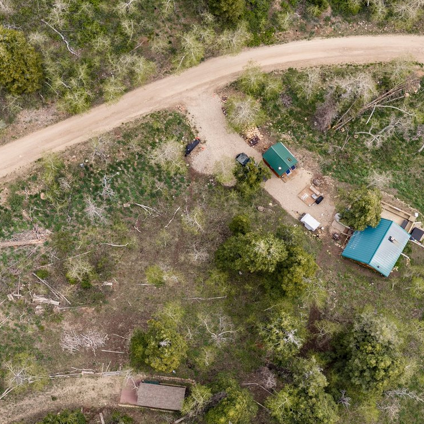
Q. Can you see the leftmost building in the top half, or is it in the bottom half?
bottom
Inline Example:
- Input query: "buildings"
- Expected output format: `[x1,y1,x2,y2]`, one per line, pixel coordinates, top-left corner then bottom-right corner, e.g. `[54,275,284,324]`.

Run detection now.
[262,140,299,179]
[137,382,187,411]
[339,215,411,279]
